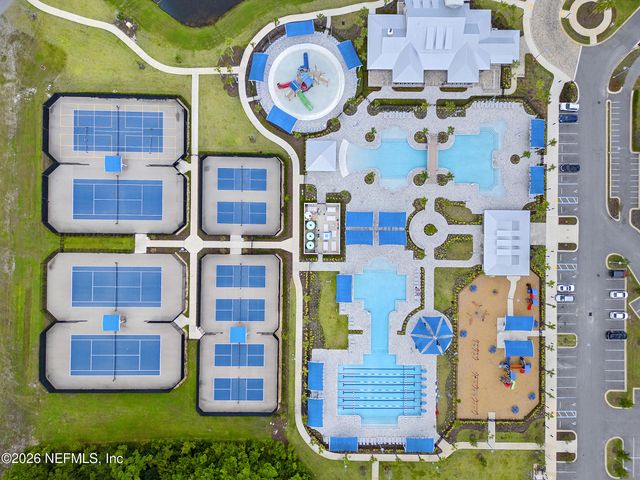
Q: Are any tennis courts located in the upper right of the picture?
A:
No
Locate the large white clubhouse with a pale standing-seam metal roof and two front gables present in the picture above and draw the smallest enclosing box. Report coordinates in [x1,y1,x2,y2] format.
[368,0,520,87]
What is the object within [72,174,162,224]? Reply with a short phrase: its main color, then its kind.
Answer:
blue tennis court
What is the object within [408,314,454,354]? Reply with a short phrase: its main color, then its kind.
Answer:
blue umbrella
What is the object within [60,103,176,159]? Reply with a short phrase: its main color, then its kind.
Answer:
blue tennis court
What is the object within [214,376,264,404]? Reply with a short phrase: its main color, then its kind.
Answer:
blue sports court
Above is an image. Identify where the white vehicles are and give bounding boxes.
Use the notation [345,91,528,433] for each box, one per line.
[559,102,579,112]
[555,294,574,302]
[609,291,628,299]
[556,284,575,292]
[609,311,628,320]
